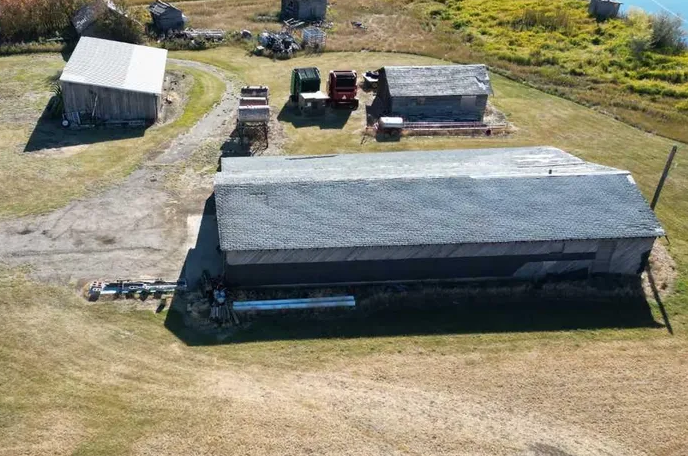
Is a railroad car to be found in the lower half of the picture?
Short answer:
No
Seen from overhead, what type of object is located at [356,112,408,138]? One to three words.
trailer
